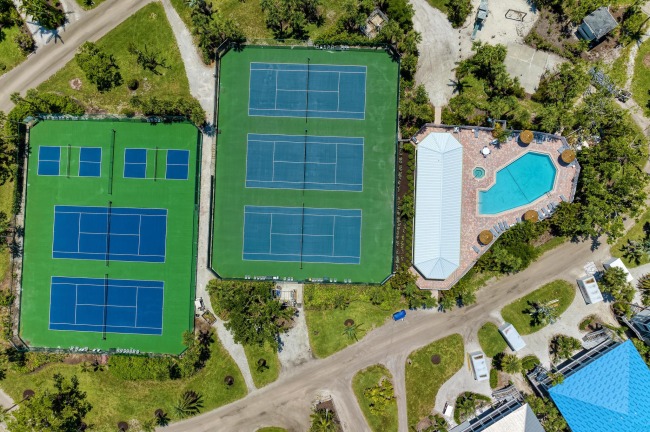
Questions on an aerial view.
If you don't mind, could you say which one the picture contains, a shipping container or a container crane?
shipping container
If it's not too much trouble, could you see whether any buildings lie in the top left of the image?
No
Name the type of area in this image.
sports ground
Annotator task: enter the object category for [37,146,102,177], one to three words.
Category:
sports court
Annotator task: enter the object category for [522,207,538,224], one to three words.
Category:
umbrella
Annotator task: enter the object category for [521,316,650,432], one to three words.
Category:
house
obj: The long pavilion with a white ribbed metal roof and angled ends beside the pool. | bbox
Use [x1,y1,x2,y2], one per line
[412,132,463,280]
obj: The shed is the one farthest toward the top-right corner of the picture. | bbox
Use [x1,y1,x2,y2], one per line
[573,4,620,46]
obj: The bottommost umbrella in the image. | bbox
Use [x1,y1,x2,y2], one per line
[477,229,493,245]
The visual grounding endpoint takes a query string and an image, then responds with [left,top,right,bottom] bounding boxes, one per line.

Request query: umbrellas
[522,207,538,224]
[559,148,575,164]
[477,229,493,245]
[517,129,534,145]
